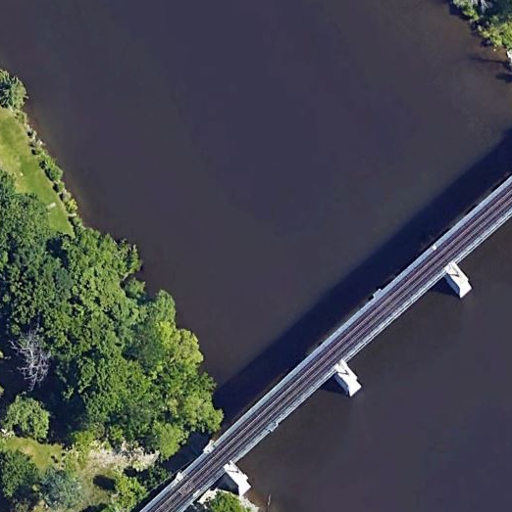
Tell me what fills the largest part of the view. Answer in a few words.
water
